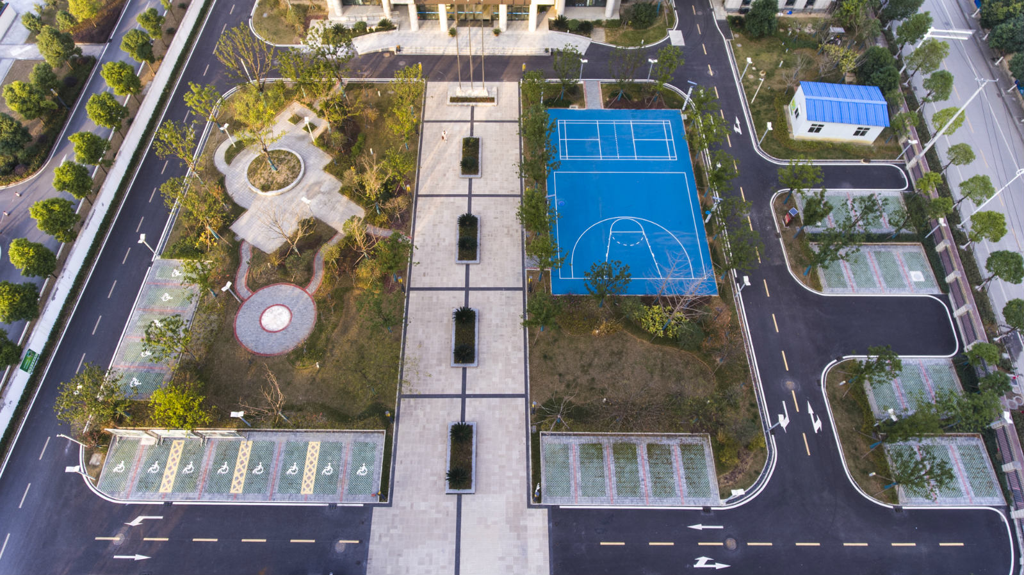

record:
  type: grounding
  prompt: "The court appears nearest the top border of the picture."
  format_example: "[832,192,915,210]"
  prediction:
[544,106,694,165]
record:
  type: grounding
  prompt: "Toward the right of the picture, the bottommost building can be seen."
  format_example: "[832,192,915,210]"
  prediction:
[781,82,888,143]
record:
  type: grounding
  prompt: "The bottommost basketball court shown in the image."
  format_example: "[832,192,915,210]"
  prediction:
[547,162,721,296]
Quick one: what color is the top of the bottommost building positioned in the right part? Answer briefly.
blue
